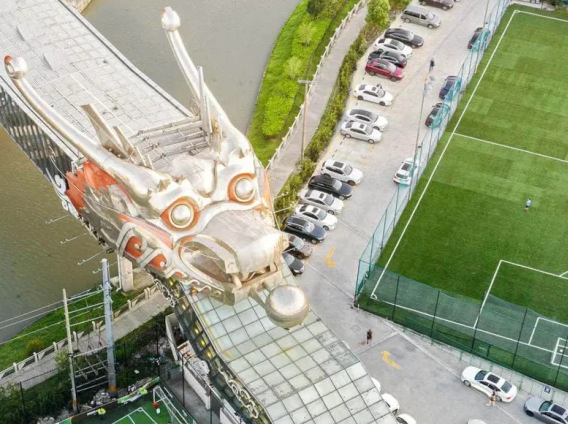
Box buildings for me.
[0,0,192,320]
[154,259,407,424]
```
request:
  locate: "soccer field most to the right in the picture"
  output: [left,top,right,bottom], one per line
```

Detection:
[356,3,568,391]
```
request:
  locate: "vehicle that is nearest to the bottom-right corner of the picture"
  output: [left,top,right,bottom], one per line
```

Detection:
[523,399,568,424]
